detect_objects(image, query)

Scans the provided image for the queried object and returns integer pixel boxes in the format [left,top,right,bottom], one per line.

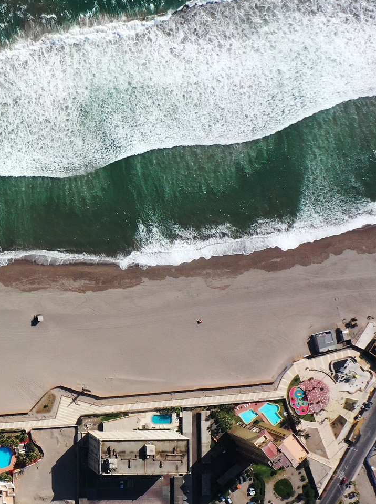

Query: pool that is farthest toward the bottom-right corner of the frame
[258,402,281,426]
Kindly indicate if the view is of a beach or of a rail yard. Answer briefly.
beach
